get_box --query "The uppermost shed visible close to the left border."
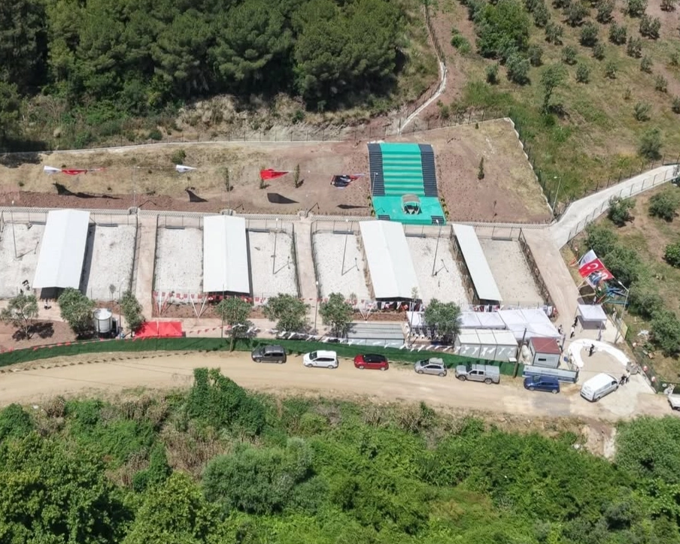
[33,208,90,307]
